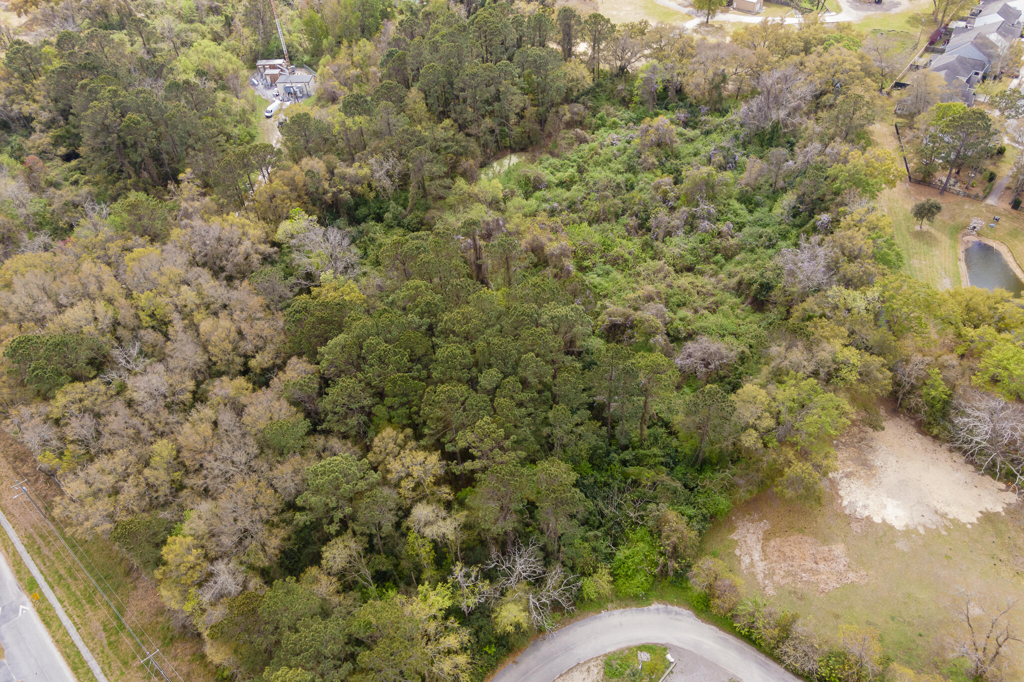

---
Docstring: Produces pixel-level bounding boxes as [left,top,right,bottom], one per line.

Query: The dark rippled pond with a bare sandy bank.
[965,242,1024,328]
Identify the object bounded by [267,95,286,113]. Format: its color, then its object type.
white vehicle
